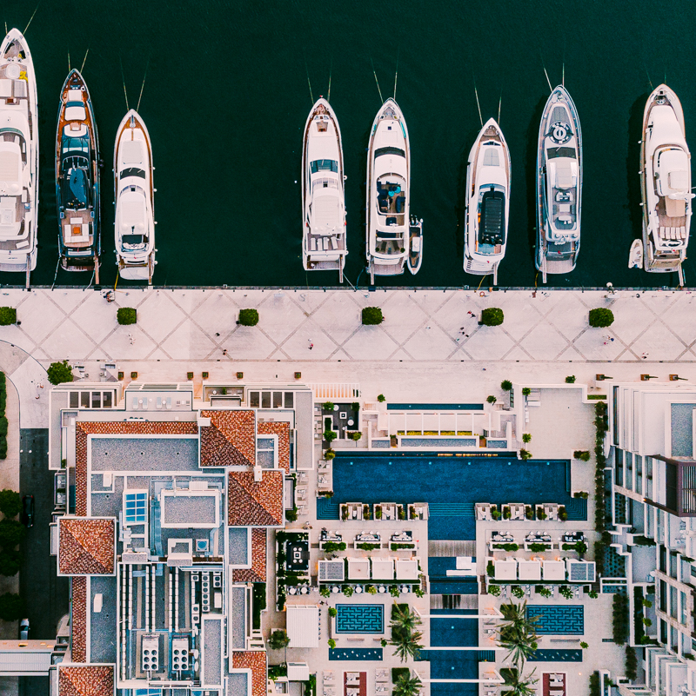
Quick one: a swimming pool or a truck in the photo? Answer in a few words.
swimming pool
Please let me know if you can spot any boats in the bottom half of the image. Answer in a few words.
No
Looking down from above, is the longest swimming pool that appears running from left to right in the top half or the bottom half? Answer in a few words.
bottom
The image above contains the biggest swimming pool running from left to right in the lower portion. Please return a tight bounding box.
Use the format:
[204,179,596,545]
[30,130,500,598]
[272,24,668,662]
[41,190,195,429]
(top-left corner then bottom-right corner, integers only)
[315,458,588,540]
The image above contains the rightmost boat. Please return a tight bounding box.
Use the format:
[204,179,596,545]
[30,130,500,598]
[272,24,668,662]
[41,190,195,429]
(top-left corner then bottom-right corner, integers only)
[638,70,696,289]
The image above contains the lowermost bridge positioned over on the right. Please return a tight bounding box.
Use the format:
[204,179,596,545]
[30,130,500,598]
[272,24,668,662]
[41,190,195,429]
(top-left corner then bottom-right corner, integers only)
[430,594,478,609]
